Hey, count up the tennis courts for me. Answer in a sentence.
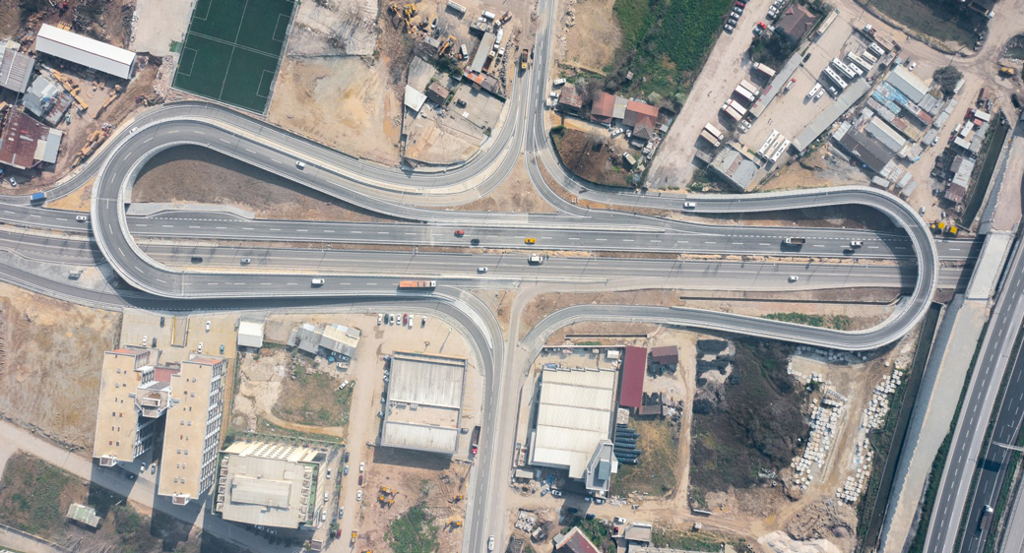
The count of tennis courts is 0.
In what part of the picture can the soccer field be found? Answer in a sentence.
The soccer field appears toward the top left of the photo.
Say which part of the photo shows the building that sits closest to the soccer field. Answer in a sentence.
Look in the top left portion of the view to spot the building that sits closest to the soccer field.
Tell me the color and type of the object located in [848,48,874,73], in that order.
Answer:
white bus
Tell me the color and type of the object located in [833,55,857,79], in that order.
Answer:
white bus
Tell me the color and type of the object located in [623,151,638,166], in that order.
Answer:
white vehicle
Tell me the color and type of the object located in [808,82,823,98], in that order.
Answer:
white vehicle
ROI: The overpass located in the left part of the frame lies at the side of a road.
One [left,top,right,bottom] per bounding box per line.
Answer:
[90,118,479,300]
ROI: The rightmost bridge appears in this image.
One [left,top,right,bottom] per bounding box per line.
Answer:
[964,225,1014,307]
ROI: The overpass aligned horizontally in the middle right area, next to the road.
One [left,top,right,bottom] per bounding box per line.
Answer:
[588,183,939,353]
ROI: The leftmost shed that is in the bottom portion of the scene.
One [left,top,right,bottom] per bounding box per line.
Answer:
[66,502,99,528]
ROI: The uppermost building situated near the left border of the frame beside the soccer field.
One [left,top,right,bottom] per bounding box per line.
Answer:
[35,23,141,81]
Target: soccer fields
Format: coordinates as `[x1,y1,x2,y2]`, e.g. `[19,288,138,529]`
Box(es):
[170,0,298,117]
